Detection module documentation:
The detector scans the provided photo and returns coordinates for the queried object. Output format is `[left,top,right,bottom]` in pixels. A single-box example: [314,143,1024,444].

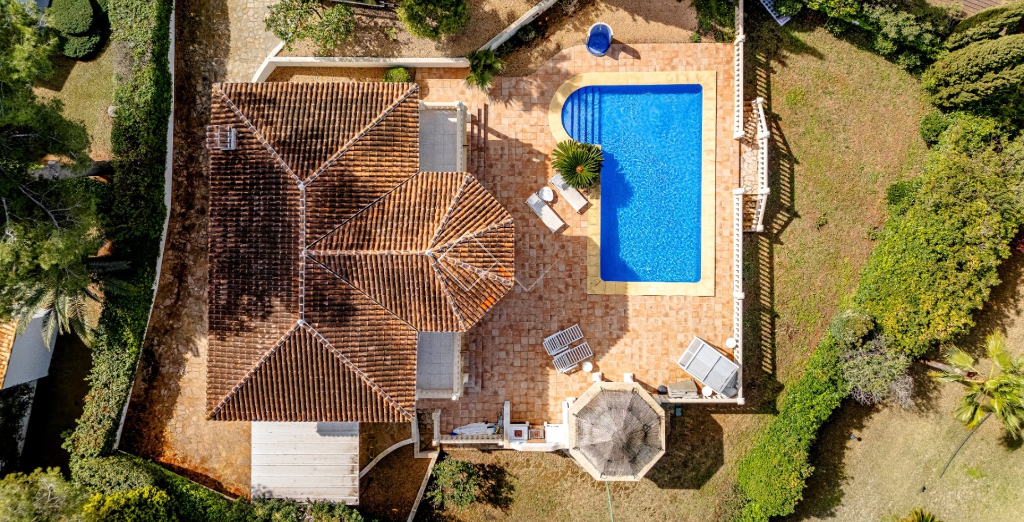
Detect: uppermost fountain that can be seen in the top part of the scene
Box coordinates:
[585,21,613,59]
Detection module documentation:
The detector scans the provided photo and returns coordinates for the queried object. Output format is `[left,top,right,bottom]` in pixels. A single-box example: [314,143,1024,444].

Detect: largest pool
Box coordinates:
[562,84,702,281]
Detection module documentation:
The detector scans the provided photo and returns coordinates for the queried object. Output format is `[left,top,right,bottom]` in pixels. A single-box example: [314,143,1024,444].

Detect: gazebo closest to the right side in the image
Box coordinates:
[567,375,665,481]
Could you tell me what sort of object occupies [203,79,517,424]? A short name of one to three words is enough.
house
